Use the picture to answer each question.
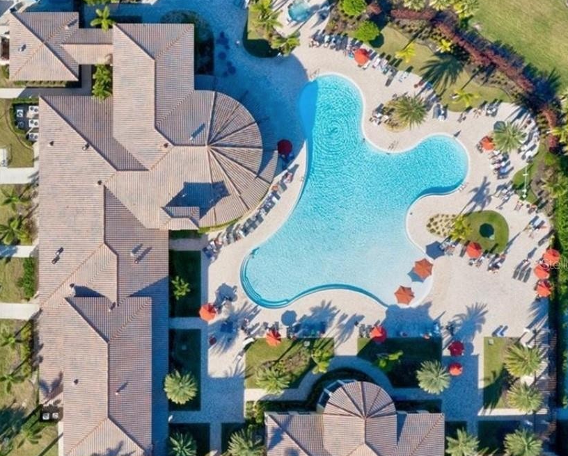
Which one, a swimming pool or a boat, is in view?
swimming pool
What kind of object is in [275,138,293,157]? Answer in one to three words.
umbrella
